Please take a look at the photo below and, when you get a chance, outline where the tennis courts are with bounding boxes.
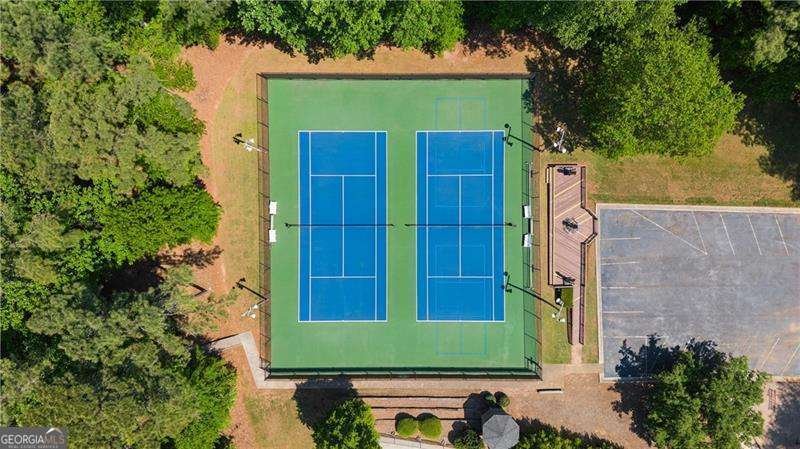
[409,97,515,355]
[289,130,395,322]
